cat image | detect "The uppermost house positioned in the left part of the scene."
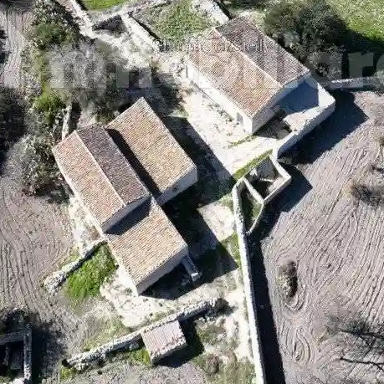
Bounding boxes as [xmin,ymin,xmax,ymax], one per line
[50,96,197,293]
